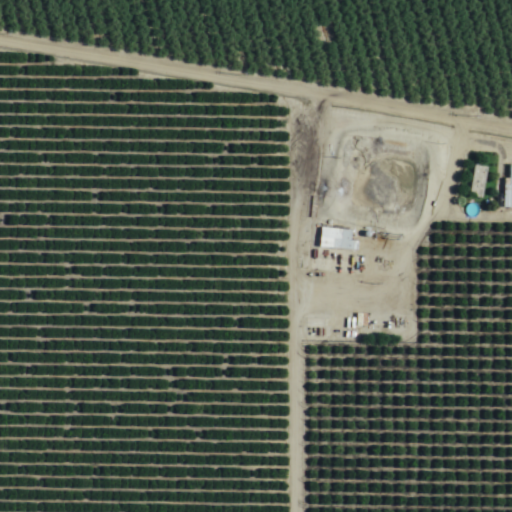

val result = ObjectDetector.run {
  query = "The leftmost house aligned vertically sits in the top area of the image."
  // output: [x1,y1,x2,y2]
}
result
[473,164,490,196]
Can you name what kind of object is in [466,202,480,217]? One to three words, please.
swimming pool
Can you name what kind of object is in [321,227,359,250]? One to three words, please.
shed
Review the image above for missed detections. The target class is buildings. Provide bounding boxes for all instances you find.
[473,164,490,196]
[321,227,359,250]
[505,176,512,206]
